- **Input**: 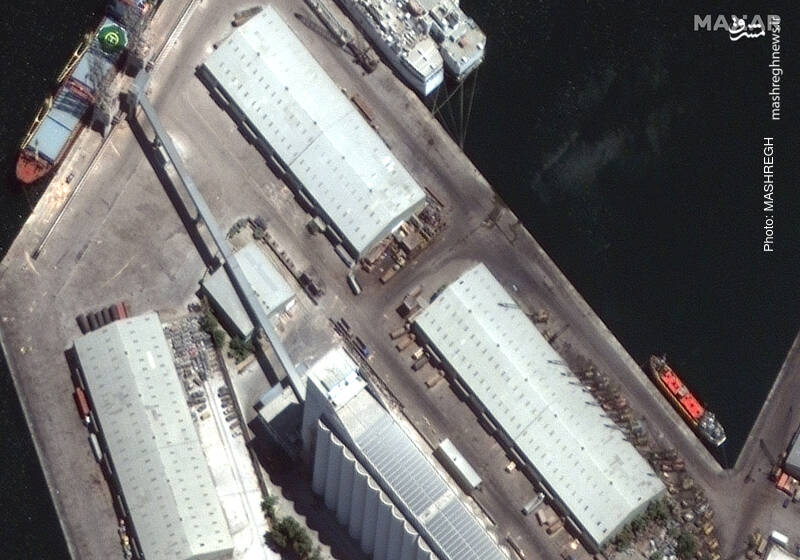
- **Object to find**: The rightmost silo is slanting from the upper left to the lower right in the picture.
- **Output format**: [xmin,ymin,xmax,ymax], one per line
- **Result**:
[307,345,509,560]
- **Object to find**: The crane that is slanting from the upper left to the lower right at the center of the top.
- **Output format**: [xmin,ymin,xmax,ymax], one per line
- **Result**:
[306,0,384,73]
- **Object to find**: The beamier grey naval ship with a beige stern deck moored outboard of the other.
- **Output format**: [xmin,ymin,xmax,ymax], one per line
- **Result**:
[420,0,487,77]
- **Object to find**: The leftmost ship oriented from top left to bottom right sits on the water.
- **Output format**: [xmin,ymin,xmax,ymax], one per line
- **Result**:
[340,0,443,95]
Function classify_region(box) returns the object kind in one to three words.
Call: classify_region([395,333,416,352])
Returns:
vehicle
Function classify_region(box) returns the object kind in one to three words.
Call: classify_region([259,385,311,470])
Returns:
building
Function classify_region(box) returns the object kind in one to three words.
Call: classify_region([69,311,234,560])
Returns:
warehouse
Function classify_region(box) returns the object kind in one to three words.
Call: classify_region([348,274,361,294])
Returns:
vehicle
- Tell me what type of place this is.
port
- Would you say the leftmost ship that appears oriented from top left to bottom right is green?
No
